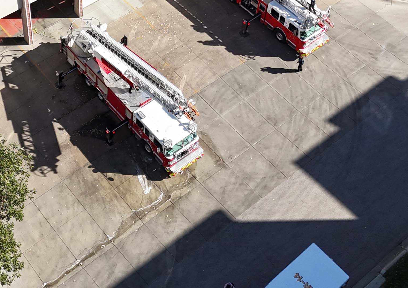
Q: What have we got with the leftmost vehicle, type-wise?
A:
truck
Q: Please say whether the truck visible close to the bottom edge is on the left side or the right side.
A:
right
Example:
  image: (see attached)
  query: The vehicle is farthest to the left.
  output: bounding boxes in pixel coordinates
[54,16,216,174]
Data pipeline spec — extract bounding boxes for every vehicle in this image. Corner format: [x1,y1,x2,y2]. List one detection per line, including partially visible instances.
[54,16,216,174]
[227,0,344,57]
[261,244,349,288]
